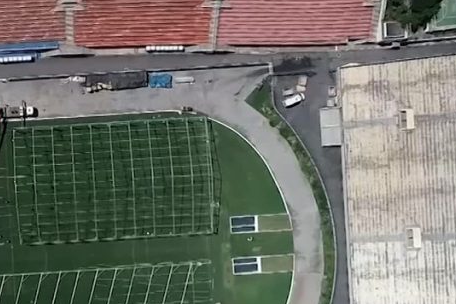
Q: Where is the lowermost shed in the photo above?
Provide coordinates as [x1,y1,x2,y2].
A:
[316,107,342,146]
